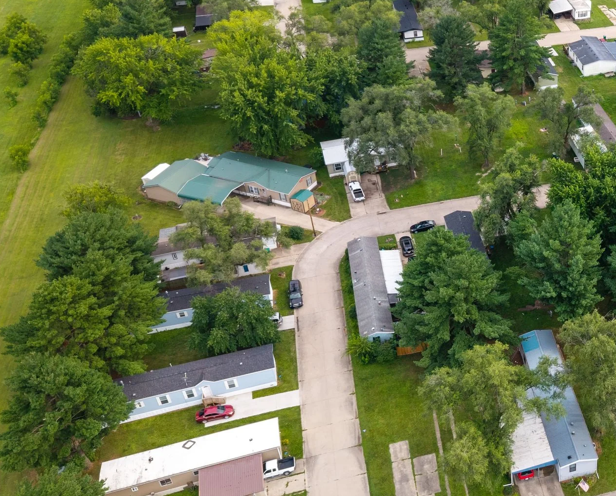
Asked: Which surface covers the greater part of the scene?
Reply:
trees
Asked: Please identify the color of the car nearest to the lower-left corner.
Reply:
red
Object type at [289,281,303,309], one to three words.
car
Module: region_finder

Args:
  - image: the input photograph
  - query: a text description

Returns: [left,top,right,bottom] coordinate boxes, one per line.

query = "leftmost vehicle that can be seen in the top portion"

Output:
[349,182,365,203]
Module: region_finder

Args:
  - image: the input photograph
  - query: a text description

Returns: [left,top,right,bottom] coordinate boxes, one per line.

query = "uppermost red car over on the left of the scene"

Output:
[196,403,236,426]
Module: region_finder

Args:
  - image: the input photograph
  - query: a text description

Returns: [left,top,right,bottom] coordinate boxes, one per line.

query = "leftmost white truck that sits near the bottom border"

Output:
[265,453,303,482]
